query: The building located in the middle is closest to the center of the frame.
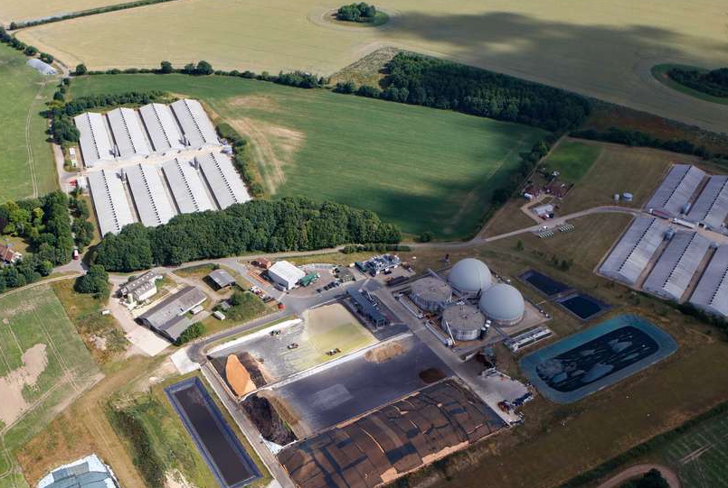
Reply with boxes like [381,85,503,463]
[352,247,402,280]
